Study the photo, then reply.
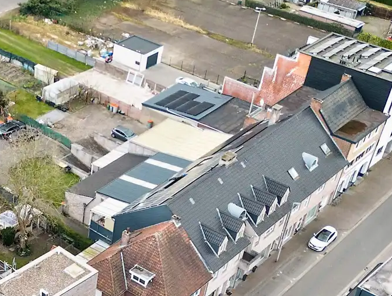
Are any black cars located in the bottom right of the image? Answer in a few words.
No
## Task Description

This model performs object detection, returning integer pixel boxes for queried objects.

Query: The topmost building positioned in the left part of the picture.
[112,35,163,71]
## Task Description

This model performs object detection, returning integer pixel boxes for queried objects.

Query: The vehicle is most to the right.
[307,223,339,251]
